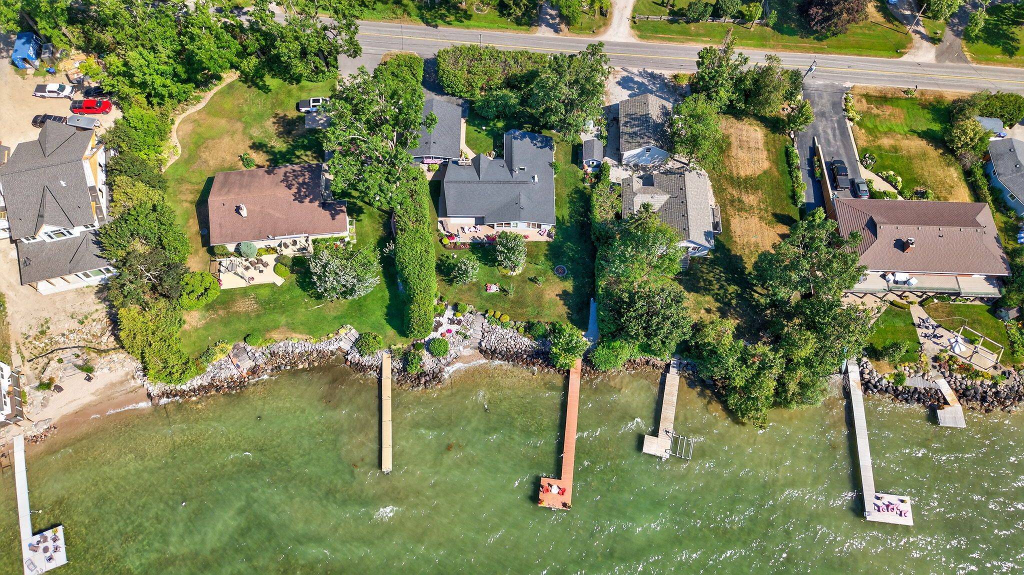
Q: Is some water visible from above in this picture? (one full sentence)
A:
Yes, water shows up in the scene.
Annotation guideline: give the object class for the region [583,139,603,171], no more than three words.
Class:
shed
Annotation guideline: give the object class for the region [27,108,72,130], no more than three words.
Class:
truck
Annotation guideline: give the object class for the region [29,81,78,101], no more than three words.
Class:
vehicle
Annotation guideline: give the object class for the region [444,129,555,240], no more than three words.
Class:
house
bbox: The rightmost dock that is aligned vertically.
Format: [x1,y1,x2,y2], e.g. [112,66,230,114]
[846,364,914,526]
